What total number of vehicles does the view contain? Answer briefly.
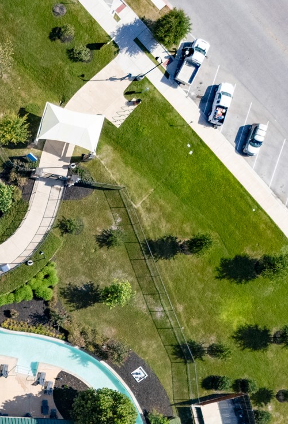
3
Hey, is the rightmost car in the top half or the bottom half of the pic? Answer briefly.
top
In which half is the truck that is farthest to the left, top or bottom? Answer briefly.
top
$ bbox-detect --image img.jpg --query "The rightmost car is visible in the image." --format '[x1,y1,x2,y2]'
[238,118,270,161]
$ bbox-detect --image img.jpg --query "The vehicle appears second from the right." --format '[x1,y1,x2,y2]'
[205,80,236,131]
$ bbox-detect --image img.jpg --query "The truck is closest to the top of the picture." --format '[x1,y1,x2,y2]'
[172,36,211,88]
